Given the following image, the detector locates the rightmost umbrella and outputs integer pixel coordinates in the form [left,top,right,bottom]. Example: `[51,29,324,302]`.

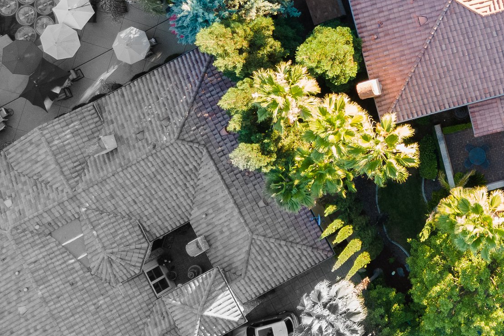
[115,27,156,63]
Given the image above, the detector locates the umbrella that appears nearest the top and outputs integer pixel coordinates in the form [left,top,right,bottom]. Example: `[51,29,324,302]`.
[59,0,101,34]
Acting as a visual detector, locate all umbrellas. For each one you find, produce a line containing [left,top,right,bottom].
[4,38,51,76]
[115,27,156,63]
[43,22,88,61]
[59,0,101,34]
[24,69,70,109]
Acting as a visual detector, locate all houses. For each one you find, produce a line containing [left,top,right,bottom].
[0,39,333,336]
[346,0,504,137]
